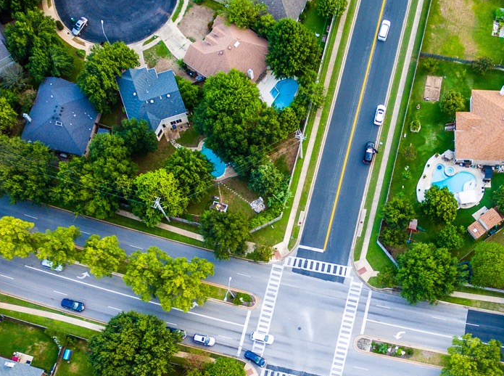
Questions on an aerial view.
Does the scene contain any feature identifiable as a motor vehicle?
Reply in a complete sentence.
Yes, the photo shows a motor vehicle.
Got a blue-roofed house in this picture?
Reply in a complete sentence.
Yes, I can see a blue-roofed house in this picture.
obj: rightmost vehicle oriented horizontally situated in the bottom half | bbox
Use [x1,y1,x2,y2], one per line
[250,331,275,344]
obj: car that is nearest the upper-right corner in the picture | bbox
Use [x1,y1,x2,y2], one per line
[377,20,390,41]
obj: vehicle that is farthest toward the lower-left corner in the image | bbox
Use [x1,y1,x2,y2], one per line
[60,298,86,311]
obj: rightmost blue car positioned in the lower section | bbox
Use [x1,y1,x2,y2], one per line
[244,348,267,367]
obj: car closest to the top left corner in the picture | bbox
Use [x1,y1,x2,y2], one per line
[71,16,88,36]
